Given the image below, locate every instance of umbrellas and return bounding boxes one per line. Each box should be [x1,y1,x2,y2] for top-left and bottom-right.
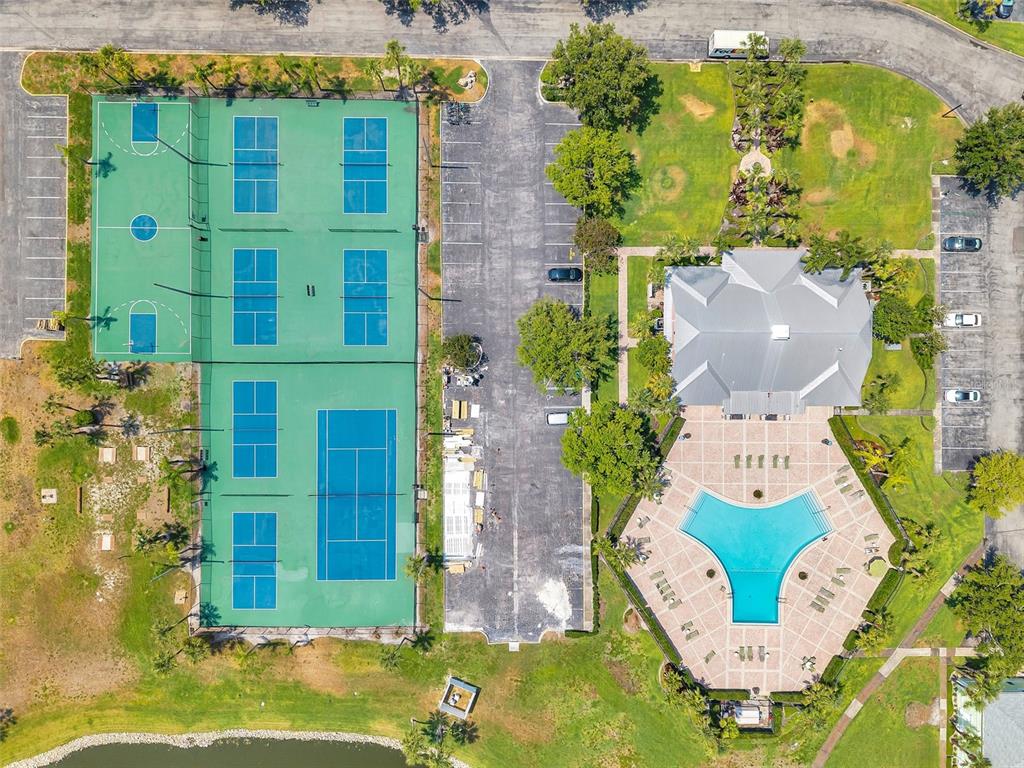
[867,557,887,576]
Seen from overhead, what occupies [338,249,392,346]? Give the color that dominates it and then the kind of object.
blue sports court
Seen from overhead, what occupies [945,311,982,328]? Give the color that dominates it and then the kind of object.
white car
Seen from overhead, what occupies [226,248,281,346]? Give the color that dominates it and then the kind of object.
blue sports court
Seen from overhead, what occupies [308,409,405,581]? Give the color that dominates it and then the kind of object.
blue tennis court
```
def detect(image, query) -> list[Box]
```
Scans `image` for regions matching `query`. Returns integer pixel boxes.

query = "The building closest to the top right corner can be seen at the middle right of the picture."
[664,249,873,414]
